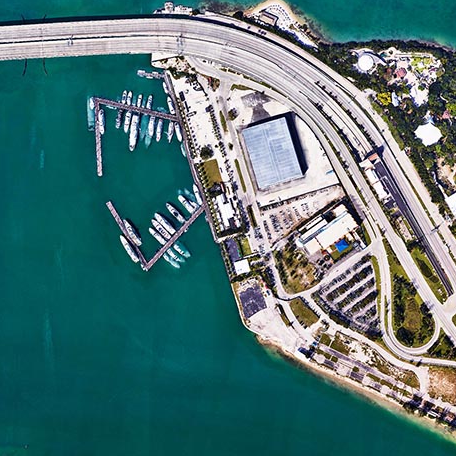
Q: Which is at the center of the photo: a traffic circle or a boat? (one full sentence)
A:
The feature located at the center of the photo is a boat.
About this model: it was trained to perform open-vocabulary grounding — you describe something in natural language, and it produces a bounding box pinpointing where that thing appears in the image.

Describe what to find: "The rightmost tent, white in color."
[415,122,442,146]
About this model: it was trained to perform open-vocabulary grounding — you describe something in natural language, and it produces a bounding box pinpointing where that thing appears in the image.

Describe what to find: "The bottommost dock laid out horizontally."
[94,98,177,122]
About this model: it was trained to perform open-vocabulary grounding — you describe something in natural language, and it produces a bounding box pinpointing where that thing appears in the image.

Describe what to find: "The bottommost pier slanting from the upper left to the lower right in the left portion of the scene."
[105,201,147,267]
